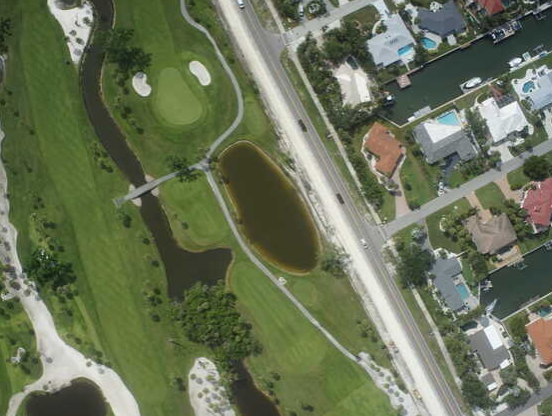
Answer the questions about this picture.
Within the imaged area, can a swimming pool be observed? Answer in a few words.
Yes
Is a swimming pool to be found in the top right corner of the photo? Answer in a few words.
Yes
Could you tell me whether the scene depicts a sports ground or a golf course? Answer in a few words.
golf course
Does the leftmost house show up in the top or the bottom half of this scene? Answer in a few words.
top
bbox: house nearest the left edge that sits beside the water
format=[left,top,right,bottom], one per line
[338,64,375,103]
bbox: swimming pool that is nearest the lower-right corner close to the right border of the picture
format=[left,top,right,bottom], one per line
[529,304,552,323]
